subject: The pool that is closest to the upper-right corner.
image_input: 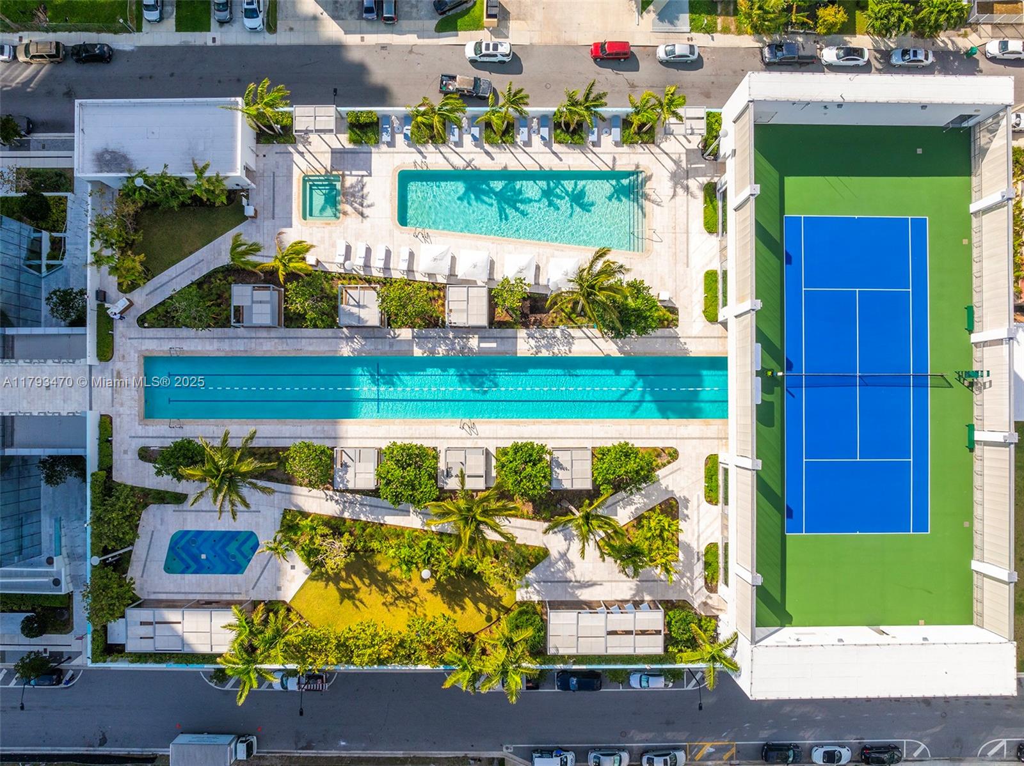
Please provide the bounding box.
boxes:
[391,164,652,258]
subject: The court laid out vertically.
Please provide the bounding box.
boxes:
[756,125,974,624]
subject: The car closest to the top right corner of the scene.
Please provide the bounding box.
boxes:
[982,38,1024,61]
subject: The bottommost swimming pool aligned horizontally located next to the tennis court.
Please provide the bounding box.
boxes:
[139,352,726,424]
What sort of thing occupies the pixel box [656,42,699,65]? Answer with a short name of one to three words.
car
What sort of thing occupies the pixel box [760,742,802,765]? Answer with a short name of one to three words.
car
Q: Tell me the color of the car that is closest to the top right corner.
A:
white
